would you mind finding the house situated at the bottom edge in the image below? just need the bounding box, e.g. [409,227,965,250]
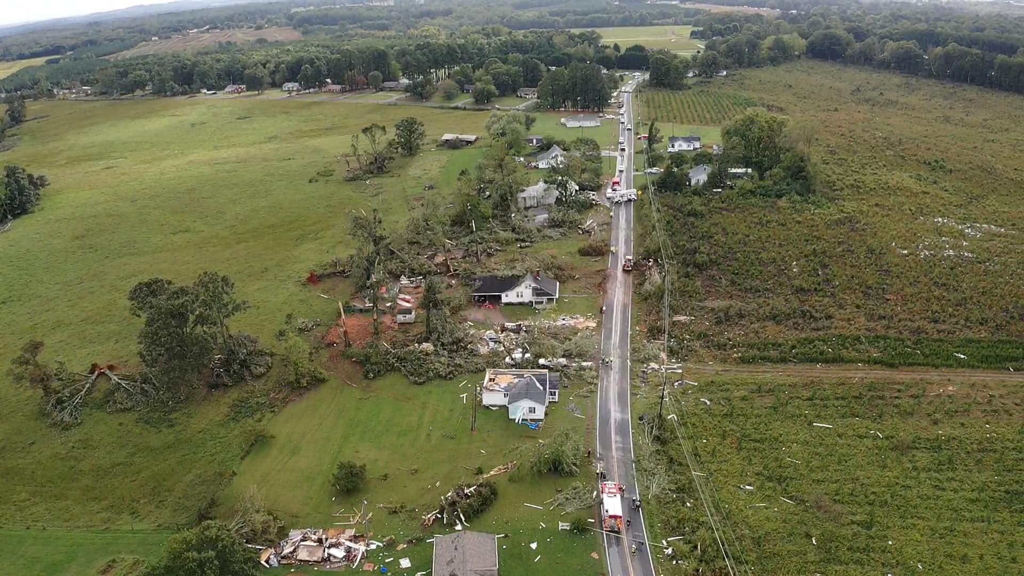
[427,533,498,576]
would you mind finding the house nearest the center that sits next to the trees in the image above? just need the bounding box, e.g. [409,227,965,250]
[471,269,559,307]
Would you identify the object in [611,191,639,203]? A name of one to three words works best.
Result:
vehicle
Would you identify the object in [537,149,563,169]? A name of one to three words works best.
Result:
house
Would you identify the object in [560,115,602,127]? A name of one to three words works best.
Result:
house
